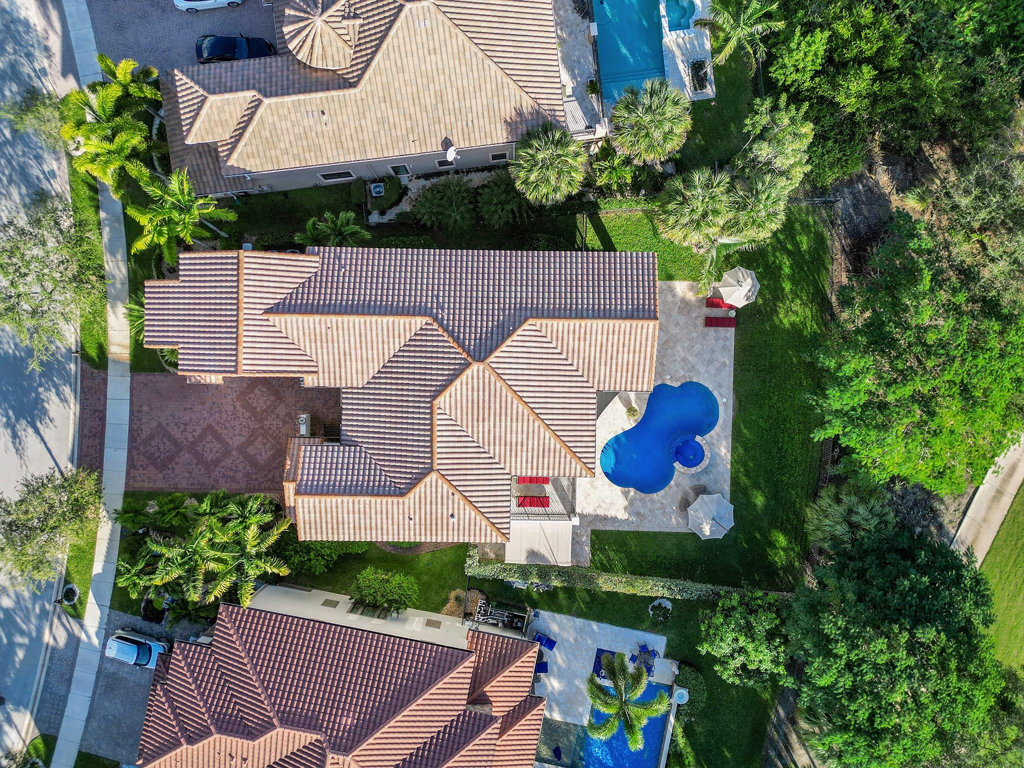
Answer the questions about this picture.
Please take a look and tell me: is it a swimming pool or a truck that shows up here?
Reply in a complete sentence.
There is a swimming pool in the scene.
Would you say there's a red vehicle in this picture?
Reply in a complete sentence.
No, the frame has no red vehicle in it.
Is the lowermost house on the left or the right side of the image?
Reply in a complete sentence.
You can find the lowermost house on the left side of the picture.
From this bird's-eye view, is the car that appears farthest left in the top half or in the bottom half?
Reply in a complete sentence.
You can find the car that appears farthest left in the bottom half.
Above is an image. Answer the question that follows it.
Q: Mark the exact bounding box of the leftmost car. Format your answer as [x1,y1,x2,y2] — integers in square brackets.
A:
[101,626,176,672]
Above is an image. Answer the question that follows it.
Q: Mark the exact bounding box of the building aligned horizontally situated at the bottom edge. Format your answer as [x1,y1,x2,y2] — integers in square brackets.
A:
[135,581,548,768]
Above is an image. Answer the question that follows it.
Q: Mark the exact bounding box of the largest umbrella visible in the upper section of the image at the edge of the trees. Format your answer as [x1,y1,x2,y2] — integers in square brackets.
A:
[716,266,758,308]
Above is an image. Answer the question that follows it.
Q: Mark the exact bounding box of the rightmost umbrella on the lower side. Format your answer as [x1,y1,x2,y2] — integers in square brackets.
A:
[687,492,734,539]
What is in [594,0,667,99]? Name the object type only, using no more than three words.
swimming pool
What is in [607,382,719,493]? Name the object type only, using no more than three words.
swimming pool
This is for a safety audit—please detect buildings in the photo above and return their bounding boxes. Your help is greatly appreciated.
[142,245,660,544]
[158,0,567,205]
[135,581,548,768]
